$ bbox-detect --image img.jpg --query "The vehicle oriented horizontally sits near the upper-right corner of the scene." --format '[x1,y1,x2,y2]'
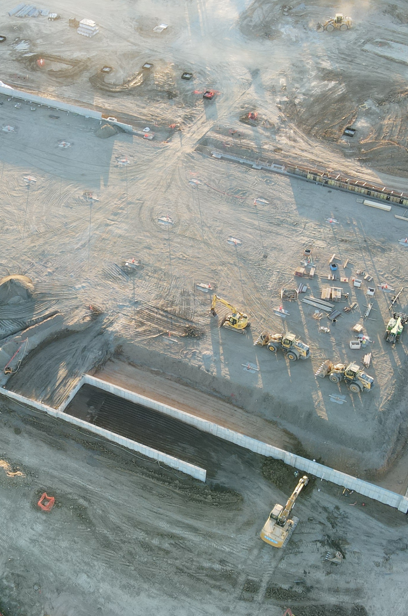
[315,14,359,31]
